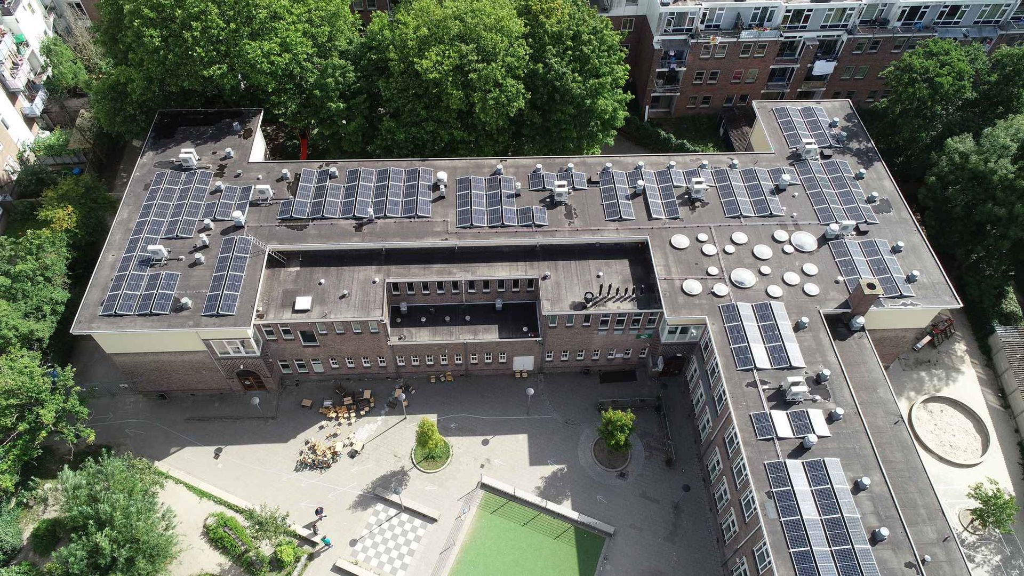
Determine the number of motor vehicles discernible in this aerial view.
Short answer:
0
